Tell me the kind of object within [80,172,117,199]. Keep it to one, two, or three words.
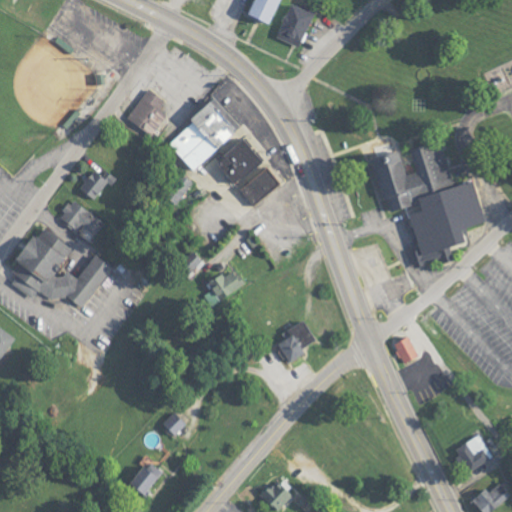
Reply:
house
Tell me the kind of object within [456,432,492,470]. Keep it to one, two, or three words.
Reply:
house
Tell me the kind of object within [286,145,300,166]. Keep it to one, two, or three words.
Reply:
vehicle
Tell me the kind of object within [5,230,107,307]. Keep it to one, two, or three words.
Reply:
building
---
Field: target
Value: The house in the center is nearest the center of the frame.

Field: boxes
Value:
[214,270,245,297]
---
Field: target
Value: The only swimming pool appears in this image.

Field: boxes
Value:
[144,432,164,449]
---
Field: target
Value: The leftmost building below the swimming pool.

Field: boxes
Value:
[134,464,163,496]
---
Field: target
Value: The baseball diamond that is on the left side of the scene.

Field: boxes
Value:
[0,10,96,177]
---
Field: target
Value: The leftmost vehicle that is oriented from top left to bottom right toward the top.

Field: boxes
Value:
[86,158,104,174]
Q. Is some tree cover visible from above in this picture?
Yes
